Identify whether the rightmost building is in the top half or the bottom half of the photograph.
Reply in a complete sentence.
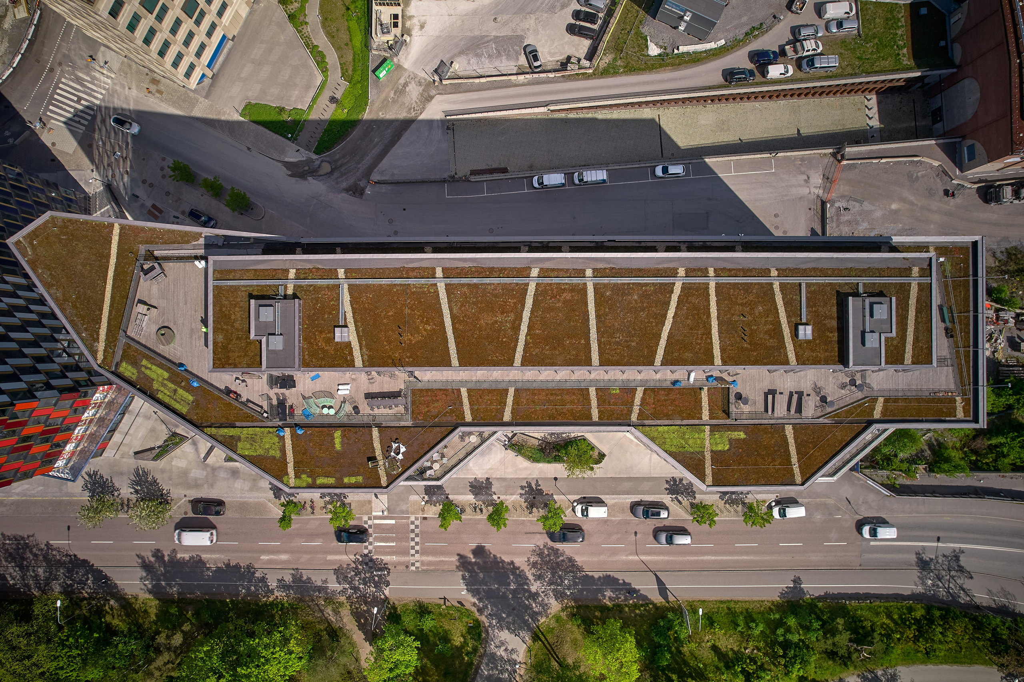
The rightmost building sits in the top half of the picture.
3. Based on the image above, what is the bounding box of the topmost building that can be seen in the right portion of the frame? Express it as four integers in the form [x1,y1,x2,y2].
[651,0,728,46]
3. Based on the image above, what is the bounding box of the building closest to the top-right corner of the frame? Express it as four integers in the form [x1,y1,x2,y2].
[931,0,1024,173]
